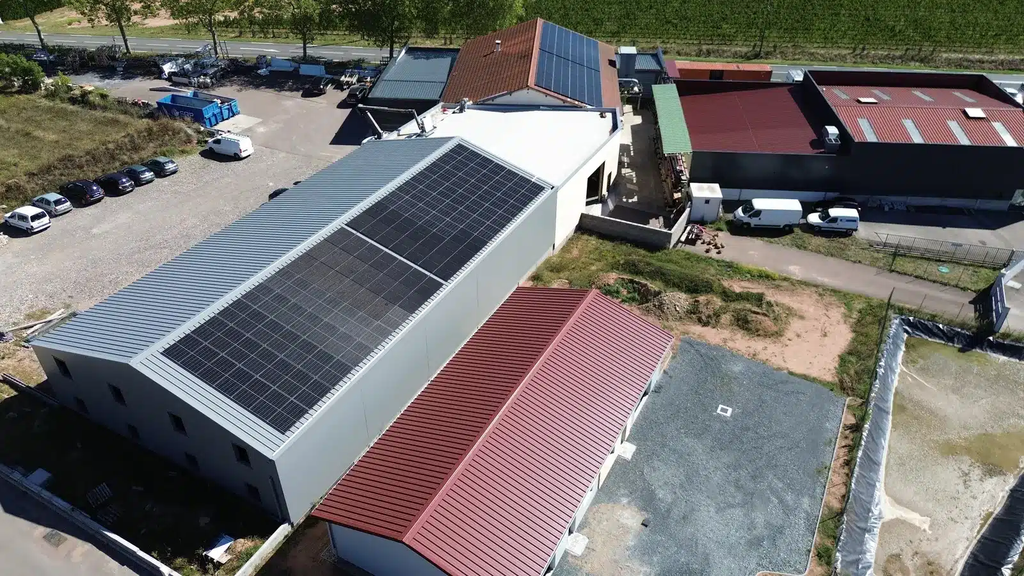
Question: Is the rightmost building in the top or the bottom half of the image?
top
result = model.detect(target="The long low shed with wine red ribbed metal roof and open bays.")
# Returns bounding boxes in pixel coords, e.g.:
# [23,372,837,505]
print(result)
[306,287,675,576]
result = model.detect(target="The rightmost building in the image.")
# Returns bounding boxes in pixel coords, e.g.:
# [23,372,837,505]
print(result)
[801,71,1024,207]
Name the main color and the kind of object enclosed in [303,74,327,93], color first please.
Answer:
black car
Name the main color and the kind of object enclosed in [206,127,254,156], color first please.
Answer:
white van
